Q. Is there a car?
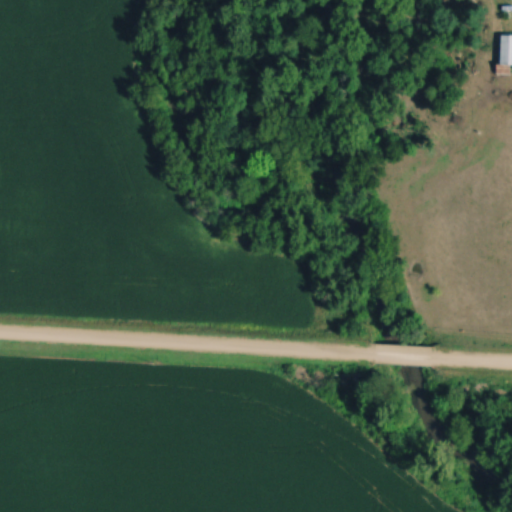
No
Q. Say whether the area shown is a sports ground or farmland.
farmland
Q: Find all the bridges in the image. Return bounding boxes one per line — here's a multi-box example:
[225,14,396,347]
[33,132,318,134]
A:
[372,344,437,367]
